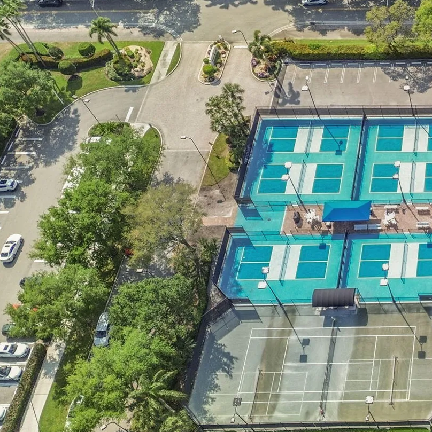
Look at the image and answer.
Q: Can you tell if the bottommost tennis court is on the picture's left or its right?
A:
right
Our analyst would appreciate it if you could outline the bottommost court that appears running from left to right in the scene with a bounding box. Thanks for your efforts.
[189,303,432,426]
